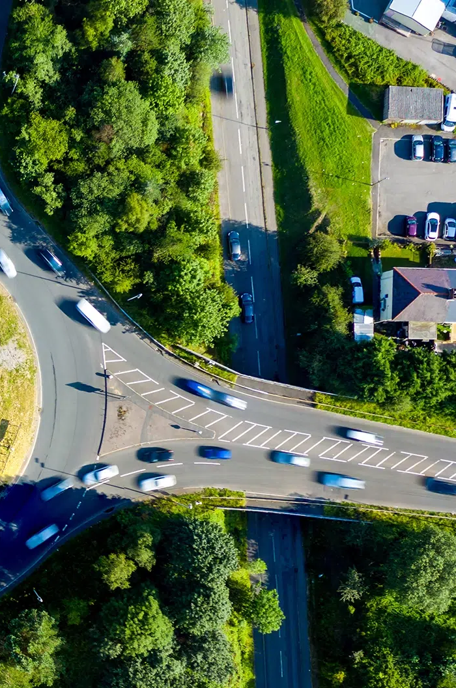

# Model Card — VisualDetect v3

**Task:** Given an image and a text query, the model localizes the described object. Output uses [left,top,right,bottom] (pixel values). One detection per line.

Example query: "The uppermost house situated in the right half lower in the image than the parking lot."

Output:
[382,266,456,323]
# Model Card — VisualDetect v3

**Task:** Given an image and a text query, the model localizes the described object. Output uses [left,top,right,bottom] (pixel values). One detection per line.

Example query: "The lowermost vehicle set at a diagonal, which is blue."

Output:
[25,521,61,550]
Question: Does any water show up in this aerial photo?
No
